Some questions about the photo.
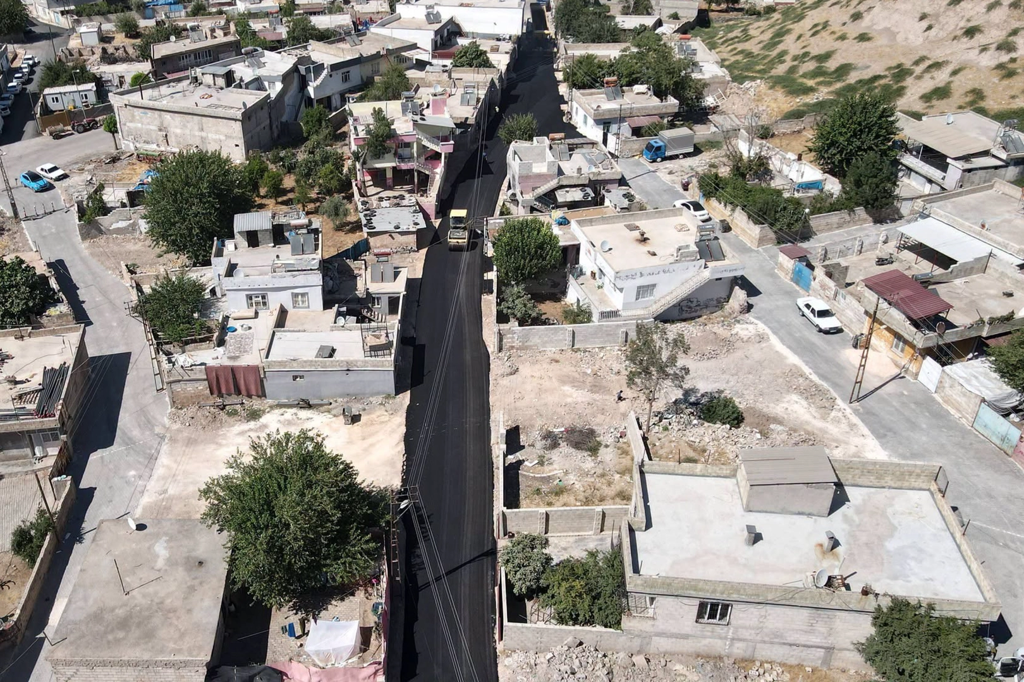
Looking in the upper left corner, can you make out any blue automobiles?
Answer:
Yes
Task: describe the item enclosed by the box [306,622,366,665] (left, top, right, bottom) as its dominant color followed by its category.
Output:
white tent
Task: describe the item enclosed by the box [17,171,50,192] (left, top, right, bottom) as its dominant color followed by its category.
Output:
blue car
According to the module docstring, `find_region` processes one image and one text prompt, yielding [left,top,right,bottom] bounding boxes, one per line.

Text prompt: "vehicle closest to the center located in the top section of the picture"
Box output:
[445,212,470,255]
